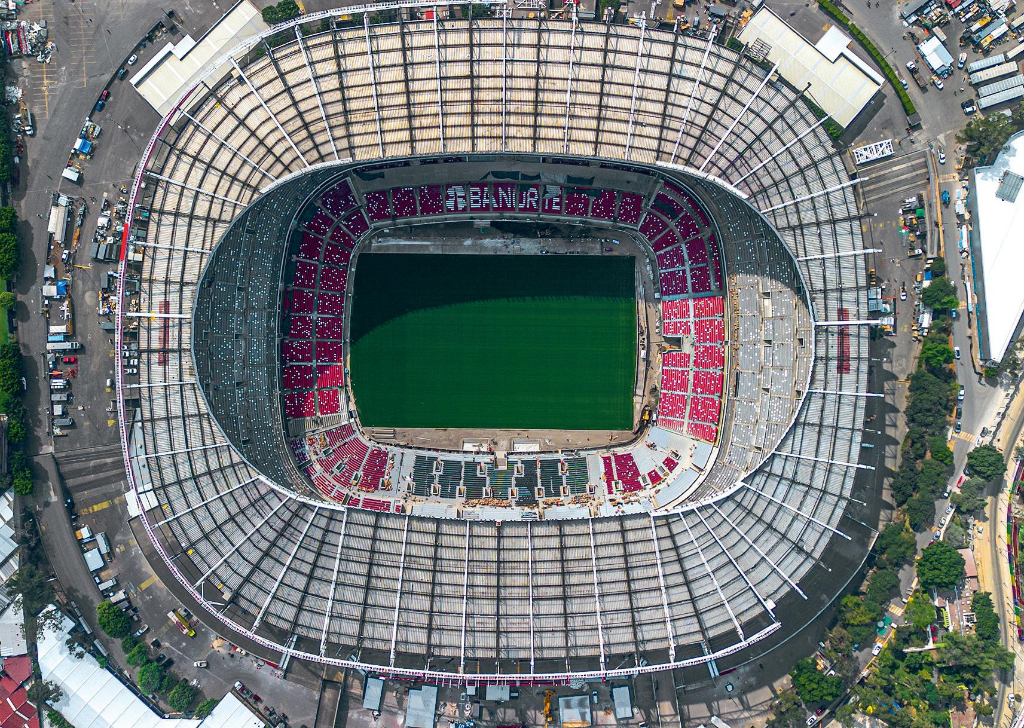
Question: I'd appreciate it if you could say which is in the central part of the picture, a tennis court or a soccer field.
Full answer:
The one visible in the central part of the picture is a soccer field.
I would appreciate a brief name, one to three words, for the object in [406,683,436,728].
shed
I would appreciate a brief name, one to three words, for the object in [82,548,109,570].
shed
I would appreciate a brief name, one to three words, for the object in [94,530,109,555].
vehicle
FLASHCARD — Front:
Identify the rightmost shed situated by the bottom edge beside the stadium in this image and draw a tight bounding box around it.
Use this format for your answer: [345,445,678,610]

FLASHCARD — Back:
[612,682,633,719]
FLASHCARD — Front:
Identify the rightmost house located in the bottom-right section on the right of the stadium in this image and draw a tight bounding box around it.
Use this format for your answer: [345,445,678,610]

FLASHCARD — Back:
[955,545,979,578]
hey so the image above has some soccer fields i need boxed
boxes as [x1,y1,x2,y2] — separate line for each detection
[349,253,636,430]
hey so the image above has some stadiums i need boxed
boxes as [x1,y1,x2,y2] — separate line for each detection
[113,0,894,682]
